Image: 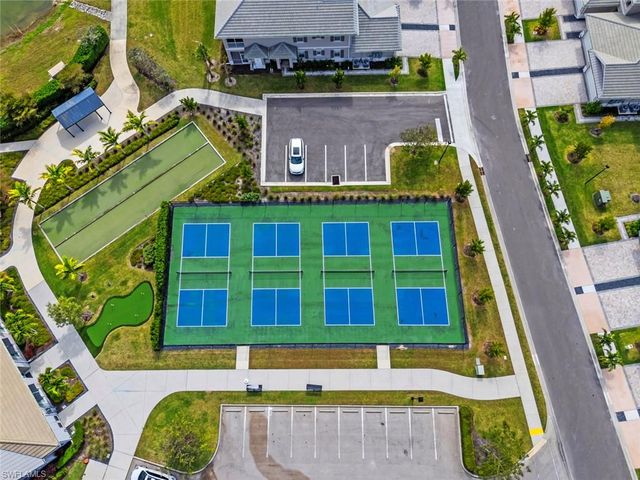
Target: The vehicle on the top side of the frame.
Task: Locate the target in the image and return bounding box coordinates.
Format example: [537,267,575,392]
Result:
[288,138,306,176]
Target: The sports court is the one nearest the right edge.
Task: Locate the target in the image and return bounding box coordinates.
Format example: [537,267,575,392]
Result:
[392,221,448,324]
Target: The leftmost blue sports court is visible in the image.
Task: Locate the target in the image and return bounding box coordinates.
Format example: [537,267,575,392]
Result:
[176,223,231,327]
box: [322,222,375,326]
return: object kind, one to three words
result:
sports court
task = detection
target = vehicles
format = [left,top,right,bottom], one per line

[288,138,306,176]
[128,466,178,480]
